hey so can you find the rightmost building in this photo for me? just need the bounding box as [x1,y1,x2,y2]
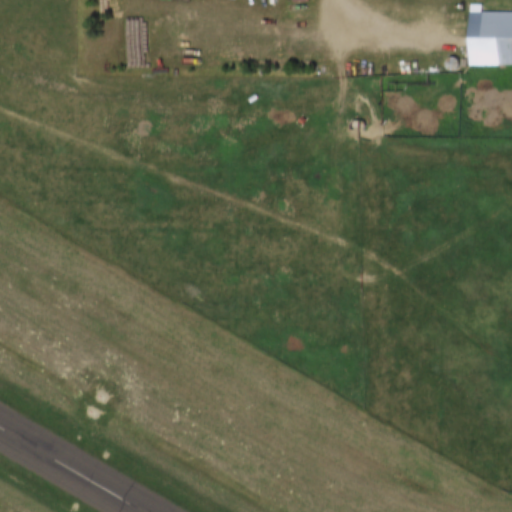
[466,3,512,68]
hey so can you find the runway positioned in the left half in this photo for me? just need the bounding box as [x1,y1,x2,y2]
[0,403,185,512]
